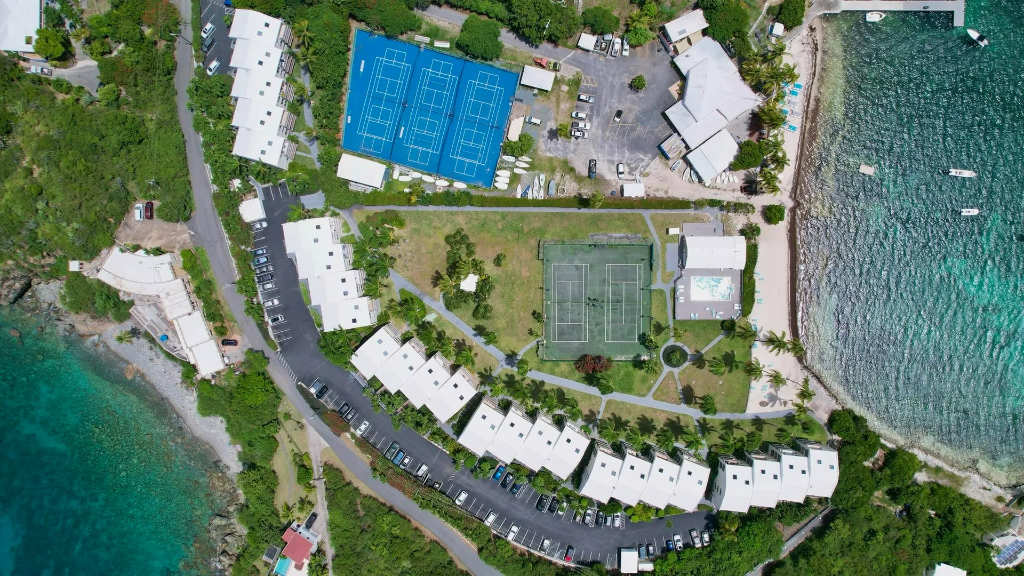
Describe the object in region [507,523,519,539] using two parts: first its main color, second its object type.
white vehicle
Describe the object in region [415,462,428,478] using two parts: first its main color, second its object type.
white vehicle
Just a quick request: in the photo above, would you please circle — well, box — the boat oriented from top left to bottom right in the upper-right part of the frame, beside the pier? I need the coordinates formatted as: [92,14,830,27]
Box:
[966,31,987,48]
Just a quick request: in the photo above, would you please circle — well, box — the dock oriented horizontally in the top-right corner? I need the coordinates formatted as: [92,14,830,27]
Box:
[811,0,964,27]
